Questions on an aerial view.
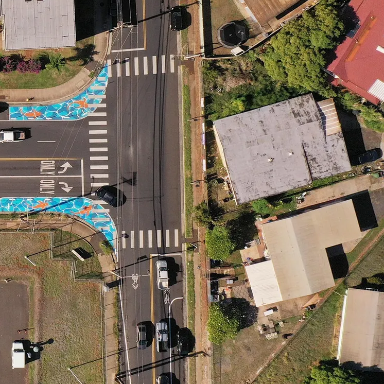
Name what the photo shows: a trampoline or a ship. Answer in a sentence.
Looking from above, you can make out a trampoline.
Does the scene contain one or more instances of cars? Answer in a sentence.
Yes, the photo shows a car.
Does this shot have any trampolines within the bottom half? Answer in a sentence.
No, there's no trampoline to be seen within the bottom half.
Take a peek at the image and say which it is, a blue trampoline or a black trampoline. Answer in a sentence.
I can see a black trampoline in this picture.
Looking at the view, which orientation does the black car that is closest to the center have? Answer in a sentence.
I'd say the black car that is closest to the center is aligned on a diagonal in the picture.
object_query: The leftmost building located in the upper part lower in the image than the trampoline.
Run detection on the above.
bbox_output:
[207,94,351,206]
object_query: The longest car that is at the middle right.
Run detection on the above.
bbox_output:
[353,147,382,164]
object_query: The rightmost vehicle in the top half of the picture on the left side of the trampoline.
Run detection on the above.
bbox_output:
[169,6,181,31]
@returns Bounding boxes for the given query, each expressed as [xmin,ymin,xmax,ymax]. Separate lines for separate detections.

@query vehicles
[12,341,26,371]
[0,130,24,142]
[93,185,118,206]
[155,374,169,384]
[169,6,181,31]
[135,322,148,348]
[353,147,382,164]
[154,320,169,352]
[176,325,189,355]
[154,259,169,290]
